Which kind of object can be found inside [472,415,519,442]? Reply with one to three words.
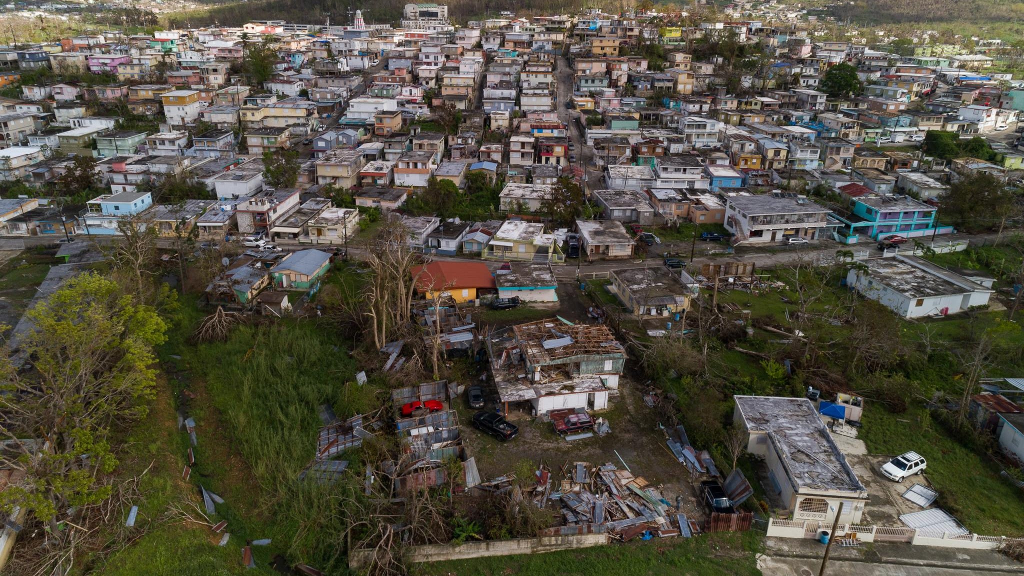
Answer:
truck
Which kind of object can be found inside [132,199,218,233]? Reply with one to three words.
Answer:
house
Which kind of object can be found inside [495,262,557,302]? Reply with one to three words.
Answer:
house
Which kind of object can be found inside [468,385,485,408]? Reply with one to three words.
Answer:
car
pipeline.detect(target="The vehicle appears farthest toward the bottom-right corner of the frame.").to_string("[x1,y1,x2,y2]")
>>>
[882,452,929,480]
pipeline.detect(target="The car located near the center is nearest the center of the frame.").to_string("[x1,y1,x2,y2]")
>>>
[491,295,521,309]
